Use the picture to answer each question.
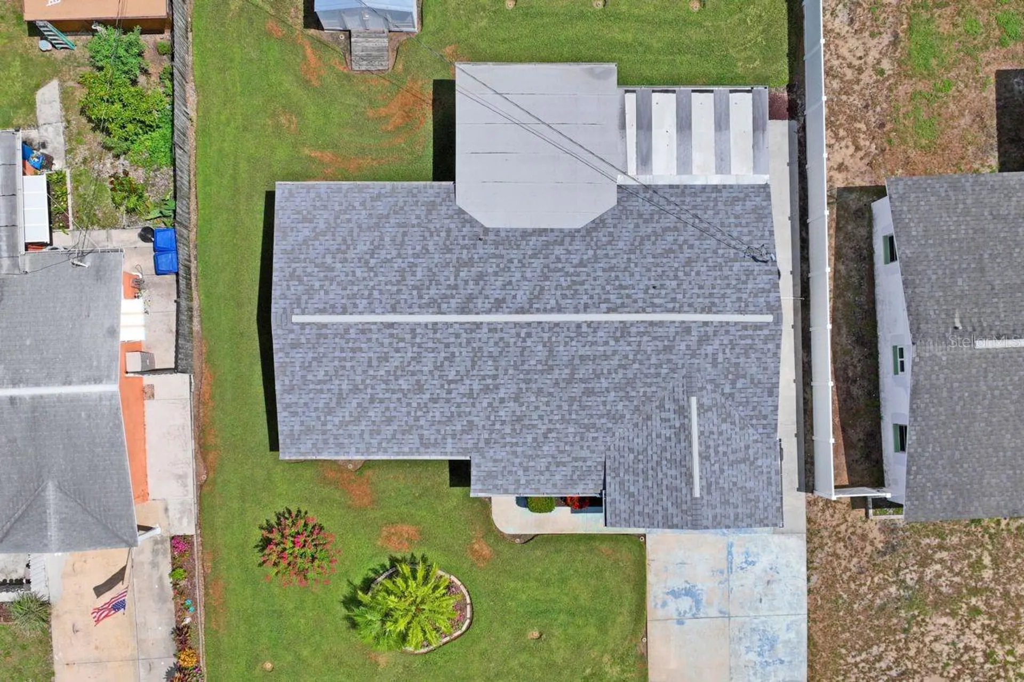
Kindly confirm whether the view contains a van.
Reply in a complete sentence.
No, the photo shows no van.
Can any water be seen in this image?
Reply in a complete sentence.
No, there's no water in this view.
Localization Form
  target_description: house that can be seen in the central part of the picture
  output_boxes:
[271,60,803,530]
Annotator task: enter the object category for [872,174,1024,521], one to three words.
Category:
house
